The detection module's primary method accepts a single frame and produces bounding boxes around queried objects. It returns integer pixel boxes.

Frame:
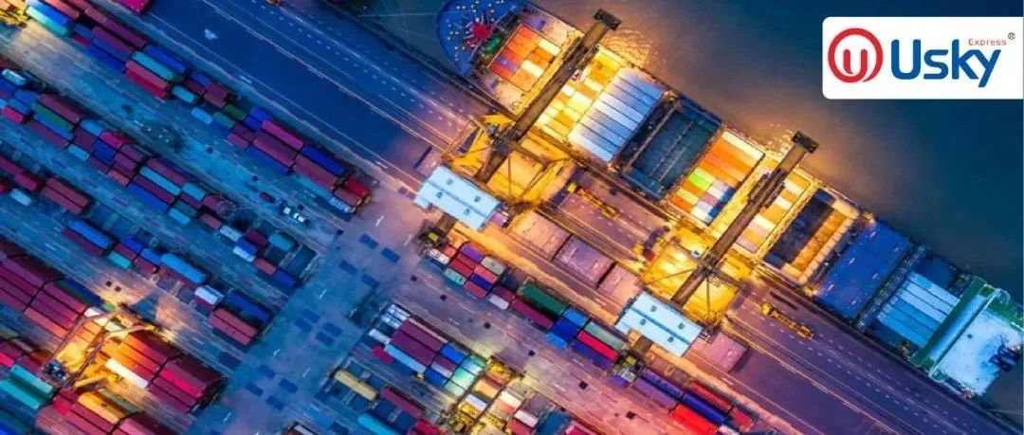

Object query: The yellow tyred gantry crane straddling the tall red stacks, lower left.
[51,310,137,388]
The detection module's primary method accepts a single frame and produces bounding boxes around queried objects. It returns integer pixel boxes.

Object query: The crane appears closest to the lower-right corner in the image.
[611,122,824,381]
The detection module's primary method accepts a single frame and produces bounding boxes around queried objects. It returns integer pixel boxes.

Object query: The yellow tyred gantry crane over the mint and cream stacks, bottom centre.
[440,352,521,433]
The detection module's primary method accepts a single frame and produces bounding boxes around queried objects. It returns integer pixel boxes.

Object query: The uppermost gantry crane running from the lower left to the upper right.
[413,3,625,248]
